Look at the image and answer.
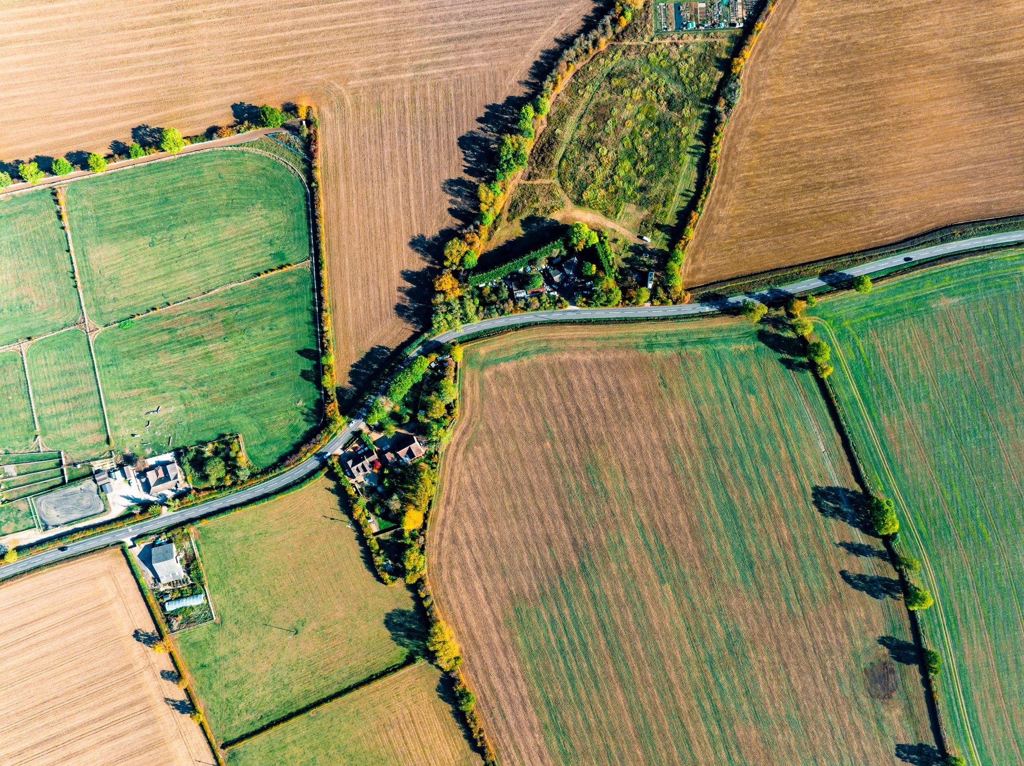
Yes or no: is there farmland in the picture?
Yes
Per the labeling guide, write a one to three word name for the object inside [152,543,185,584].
barn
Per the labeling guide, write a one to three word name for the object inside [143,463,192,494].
house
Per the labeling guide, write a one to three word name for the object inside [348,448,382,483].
house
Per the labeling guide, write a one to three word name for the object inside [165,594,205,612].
greenhouse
